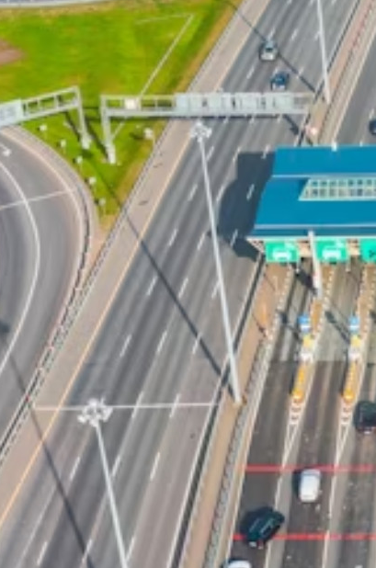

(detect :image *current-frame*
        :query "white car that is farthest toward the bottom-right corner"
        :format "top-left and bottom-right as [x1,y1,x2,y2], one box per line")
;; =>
[297,470,321,504]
